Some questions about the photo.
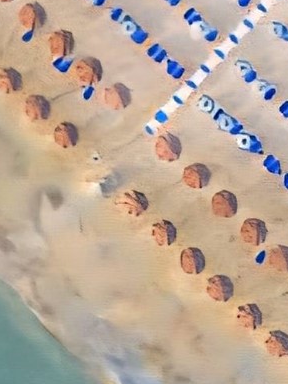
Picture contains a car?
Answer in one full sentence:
No, this view has no car in it.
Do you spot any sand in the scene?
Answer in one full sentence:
Yes, there is sand in the image.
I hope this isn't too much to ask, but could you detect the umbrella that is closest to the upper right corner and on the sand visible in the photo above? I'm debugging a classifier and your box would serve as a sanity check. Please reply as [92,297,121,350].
[268,20,286,38]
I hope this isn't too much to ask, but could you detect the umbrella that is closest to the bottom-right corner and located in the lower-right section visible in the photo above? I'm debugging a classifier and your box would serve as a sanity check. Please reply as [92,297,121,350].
[265,332,288,355]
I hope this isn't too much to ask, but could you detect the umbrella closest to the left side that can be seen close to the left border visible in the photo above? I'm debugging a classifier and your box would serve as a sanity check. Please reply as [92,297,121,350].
[0,68,18,92]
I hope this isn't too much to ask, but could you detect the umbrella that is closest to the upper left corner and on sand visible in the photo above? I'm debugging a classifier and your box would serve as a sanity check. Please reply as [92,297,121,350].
[20,5,42,27]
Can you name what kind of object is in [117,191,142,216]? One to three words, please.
umbrella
